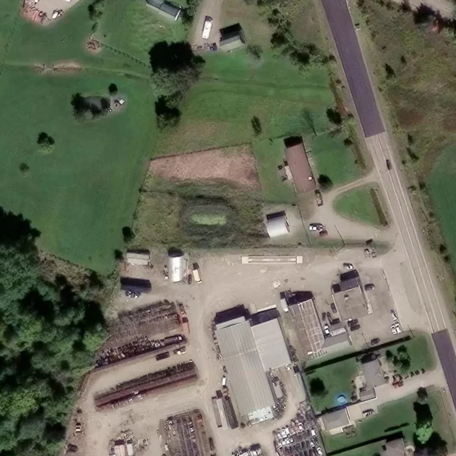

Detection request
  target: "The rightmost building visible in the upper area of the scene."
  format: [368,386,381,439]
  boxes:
[286,143,318,192]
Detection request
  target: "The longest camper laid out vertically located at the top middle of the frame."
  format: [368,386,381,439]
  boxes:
[202,15,214,39]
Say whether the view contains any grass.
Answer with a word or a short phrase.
Yes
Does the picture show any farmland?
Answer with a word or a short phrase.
Yes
